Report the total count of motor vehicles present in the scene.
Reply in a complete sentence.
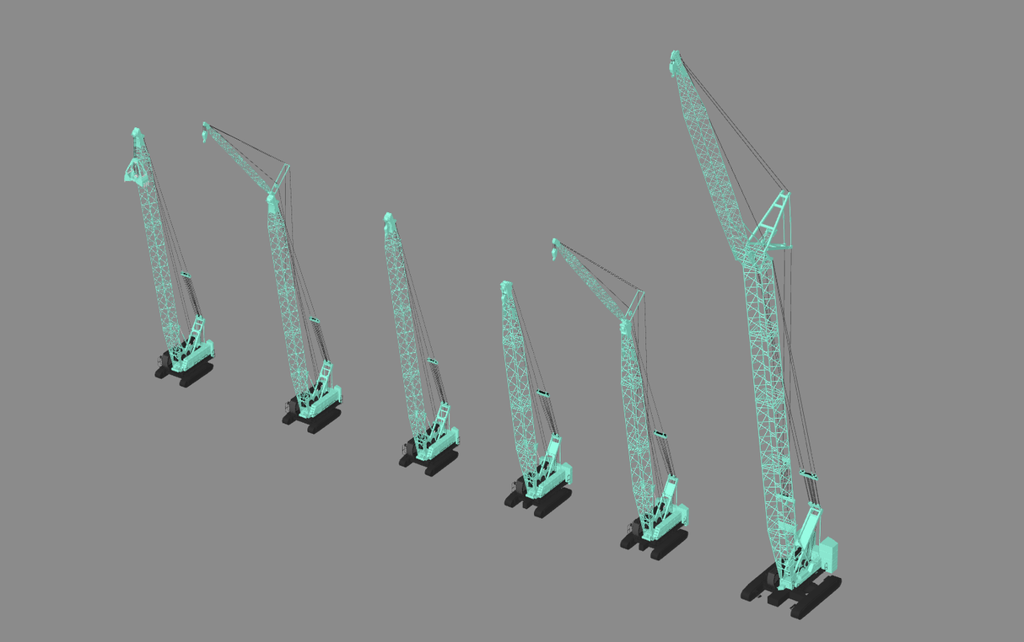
The count of motor vehicles is 0.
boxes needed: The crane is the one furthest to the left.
[130,129,216,388]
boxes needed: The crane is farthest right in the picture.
[671,50,842,619]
